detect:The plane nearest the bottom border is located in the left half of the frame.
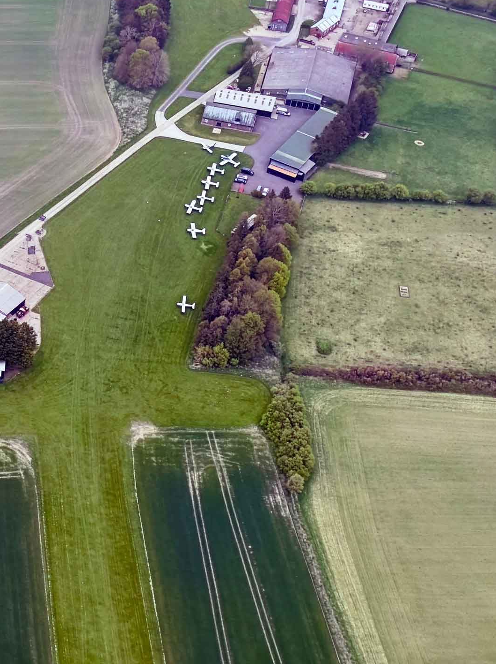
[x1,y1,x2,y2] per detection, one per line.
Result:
[177,296,194,313]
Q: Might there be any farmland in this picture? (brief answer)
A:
Yes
